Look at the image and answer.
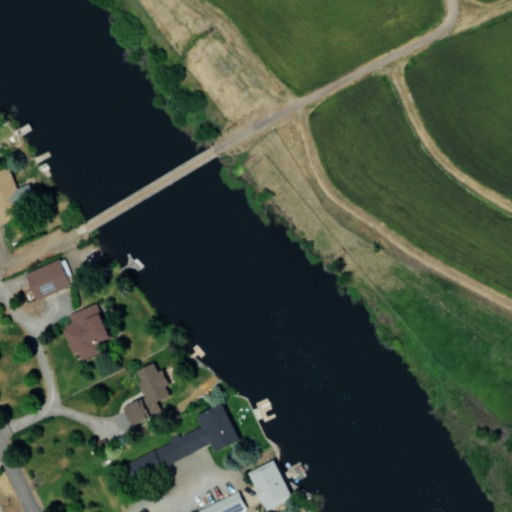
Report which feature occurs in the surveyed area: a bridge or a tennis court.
bridge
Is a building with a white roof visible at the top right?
No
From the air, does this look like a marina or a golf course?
marina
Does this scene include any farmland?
Yes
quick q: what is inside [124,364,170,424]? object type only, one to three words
house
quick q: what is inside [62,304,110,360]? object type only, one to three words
house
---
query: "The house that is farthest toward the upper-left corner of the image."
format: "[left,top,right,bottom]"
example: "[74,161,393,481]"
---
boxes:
[0,170,33,223]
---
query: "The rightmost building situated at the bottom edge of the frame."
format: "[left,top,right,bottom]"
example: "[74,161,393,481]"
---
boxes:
[248,460,292,510]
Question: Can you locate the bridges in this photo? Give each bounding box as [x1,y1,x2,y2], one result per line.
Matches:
[76,148,220,237]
